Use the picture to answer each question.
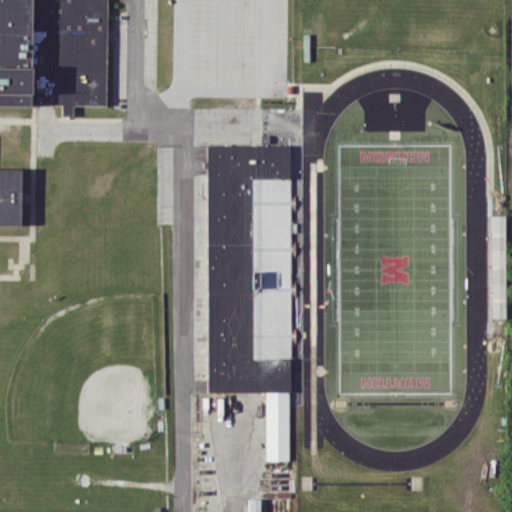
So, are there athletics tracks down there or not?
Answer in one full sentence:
Yes, this view includes an athletics track.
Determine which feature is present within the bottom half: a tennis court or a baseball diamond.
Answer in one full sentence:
It is a baseball diamond that can be seen within the bottom half.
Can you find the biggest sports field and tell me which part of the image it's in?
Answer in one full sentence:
Look in the right portion of the view to spot the biggest sports field.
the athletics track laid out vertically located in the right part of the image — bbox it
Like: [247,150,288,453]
[304,68,486,471]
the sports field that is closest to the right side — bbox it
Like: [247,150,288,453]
[325,89,466,450]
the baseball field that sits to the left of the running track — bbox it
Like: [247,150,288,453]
[78,364,152,445]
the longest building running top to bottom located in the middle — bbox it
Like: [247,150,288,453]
[208,146,296,392]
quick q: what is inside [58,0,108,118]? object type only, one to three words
building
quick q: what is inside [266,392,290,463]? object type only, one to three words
shed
